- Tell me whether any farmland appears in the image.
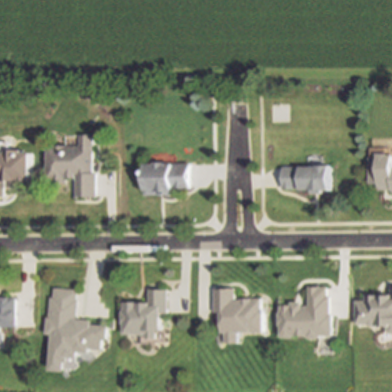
Yes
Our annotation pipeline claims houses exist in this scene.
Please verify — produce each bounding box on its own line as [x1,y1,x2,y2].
[212,287,263,344]
[120,289,168,340]
[136,162,192,197]
[0,147,28,198]
[45,134,97,197]
[276,286,331,341]
[366,153,392,194]
[354,294,392,334]
[0,294,17,328]
[276,165,332,196]
[44,287,108,372]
